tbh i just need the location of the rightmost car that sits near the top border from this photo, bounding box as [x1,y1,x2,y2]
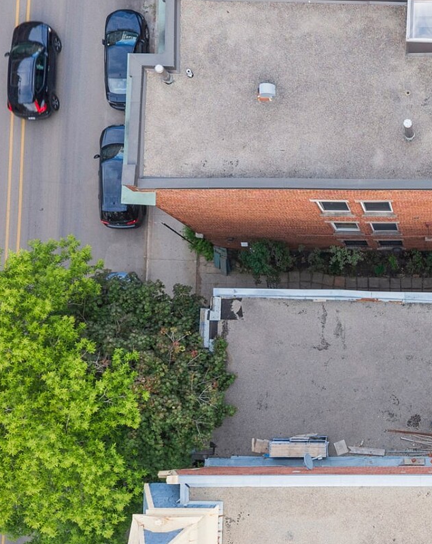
[102,10,151,106]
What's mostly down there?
buildings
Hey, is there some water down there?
No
